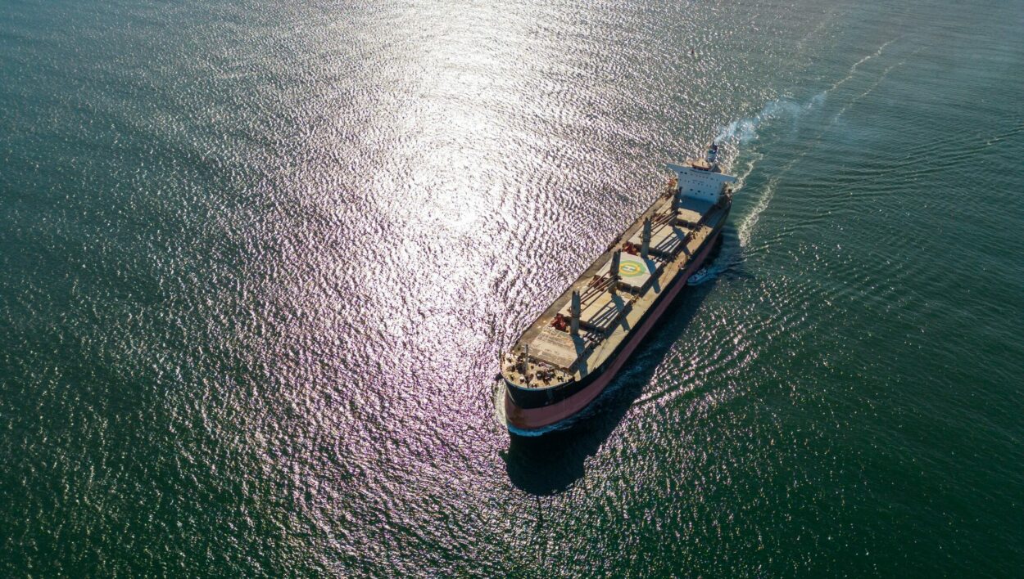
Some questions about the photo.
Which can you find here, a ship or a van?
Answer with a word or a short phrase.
ship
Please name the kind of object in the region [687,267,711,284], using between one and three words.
boat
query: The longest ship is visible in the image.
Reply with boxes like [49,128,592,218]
[493,141,739,425]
